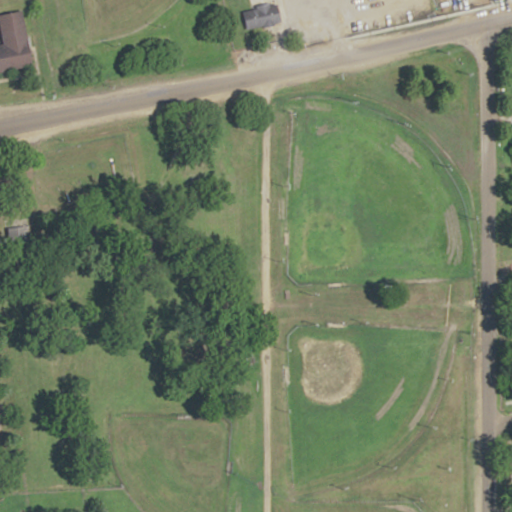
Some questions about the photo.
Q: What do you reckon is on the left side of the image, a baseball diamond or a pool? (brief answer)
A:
baseball diamond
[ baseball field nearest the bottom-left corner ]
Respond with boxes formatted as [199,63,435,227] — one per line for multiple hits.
[107,413,231,512]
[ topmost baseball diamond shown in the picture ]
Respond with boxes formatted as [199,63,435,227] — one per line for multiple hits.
[285,96,476,286]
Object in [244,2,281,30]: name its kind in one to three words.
house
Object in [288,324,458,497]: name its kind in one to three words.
baseball field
